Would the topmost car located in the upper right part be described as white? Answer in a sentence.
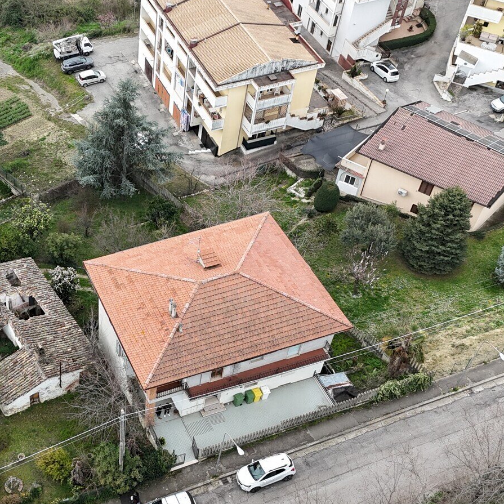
Yes, the topmost car located in the upper right part is white.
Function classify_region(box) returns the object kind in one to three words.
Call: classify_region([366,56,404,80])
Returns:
car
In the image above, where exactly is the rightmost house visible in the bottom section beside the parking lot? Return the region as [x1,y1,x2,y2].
[84,211,355,428]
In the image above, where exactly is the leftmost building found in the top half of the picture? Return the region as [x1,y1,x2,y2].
[134,0,333,165]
